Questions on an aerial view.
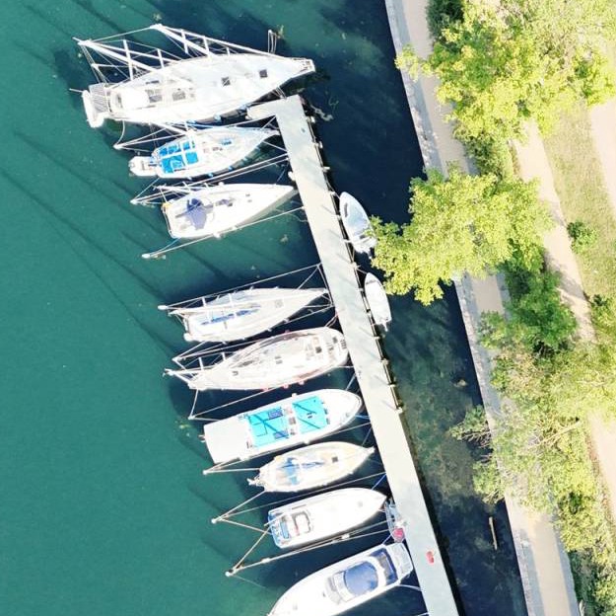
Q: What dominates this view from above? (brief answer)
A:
water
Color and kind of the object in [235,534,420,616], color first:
white boat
